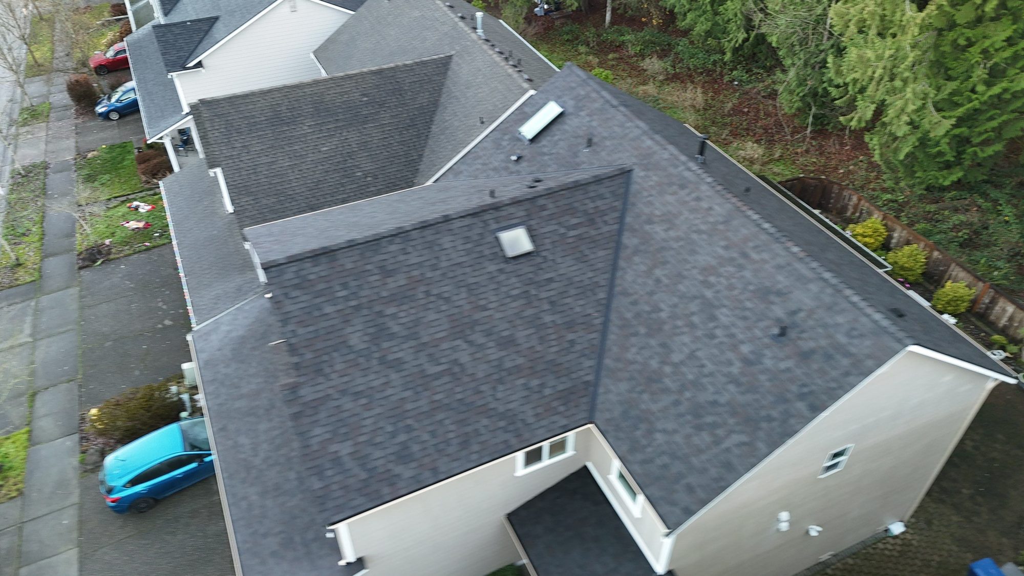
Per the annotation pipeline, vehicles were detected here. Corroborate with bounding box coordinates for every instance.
[91,77,138,121]
[77,36,132,76]
[92,413,212,519]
